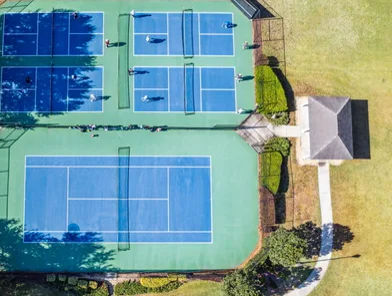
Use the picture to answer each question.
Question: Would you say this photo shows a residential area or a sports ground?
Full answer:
It's a sports ground.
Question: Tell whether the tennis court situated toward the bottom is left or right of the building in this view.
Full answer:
The building has the tennis court situated toward the bottom on its left side.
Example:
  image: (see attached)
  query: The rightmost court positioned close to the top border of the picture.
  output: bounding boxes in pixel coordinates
[133,12,235,56]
